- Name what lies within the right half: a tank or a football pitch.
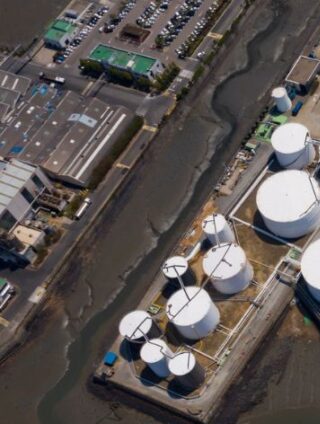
tank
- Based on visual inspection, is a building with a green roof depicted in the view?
Yes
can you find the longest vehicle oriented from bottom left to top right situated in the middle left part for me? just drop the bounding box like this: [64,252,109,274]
[75,198,92,217]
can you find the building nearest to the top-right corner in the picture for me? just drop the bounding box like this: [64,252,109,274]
[286,55,320,92]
